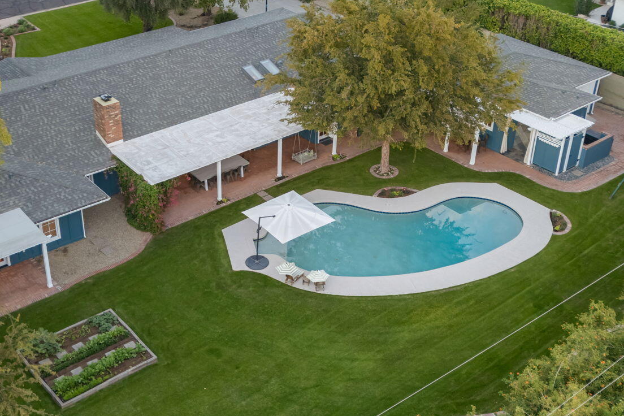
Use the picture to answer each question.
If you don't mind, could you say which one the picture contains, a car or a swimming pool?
swimming pool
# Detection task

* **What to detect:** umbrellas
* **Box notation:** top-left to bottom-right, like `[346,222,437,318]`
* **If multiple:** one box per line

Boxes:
[240,185,339,267]
[304,266,332,280]
[272,254,302,278]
